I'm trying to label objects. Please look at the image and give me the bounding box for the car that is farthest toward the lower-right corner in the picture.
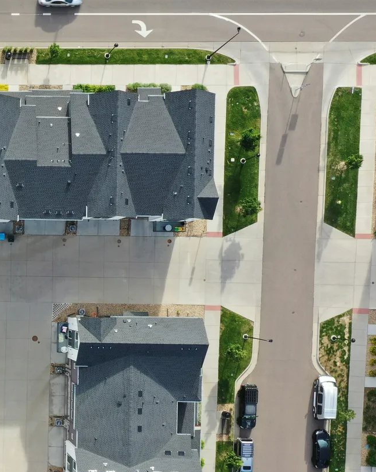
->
[310,426,331,468]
